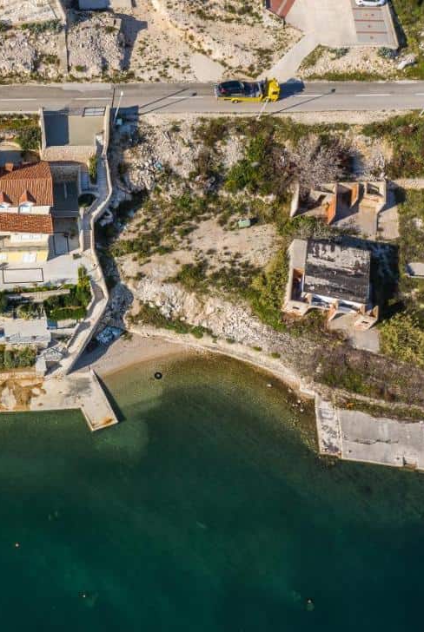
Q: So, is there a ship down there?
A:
No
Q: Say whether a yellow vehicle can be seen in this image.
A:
Yes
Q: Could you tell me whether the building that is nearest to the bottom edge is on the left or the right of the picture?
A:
left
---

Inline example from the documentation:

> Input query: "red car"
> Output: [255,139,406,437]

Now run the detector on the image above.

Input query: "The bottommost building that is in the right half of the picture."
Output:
[279,240,379,333]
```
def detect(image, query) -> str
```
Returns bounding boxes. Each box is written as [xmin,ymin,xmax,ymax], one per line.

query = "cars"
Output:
[220,81,253,98]
[356,0,387,8]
